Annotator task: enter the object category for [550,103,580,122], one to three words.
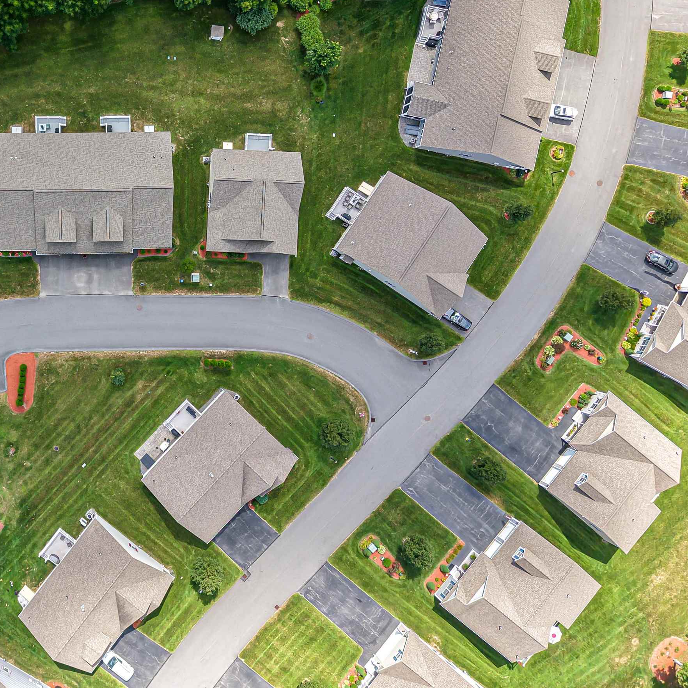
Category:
car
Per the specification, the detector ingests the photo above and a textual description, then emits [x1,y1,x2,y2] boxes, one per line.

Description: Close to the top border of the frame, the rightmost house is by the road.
[400,0,570,171]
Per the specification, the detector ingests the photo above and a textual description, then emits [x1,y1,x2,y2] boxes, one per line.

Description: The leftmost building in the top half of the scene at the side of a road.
[0,116,173,256]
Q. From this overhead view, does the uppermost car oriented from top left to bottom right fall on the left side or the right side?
right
